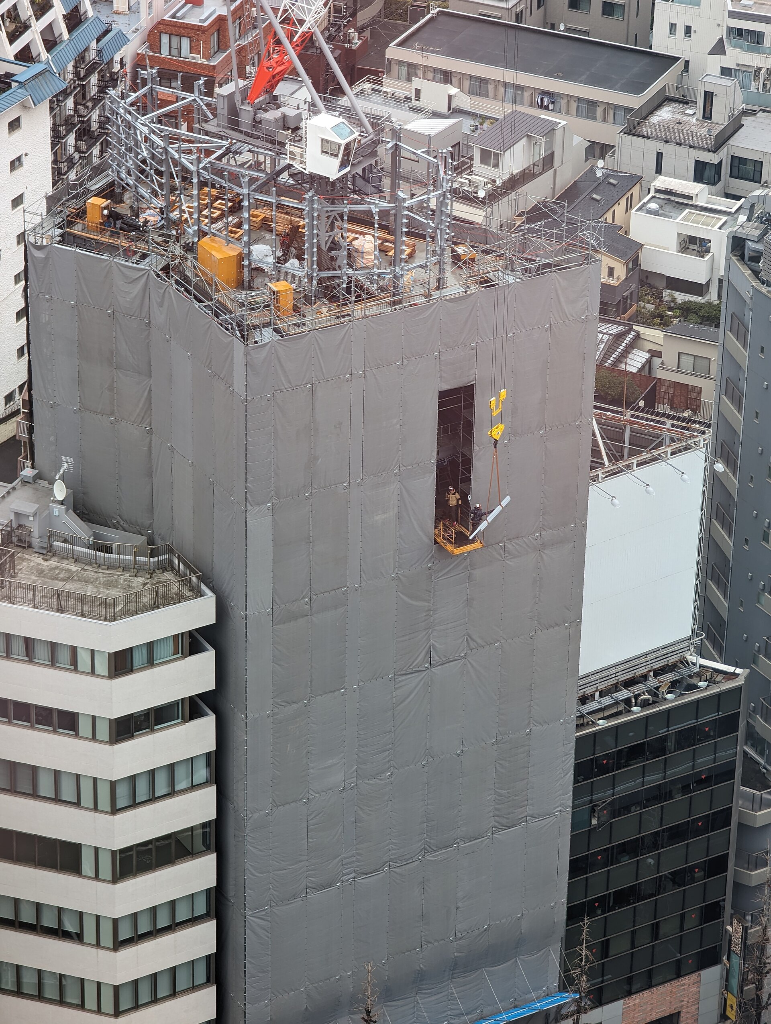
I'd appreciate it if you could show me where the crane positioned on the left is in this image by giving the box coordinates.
[188,0,394,295]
